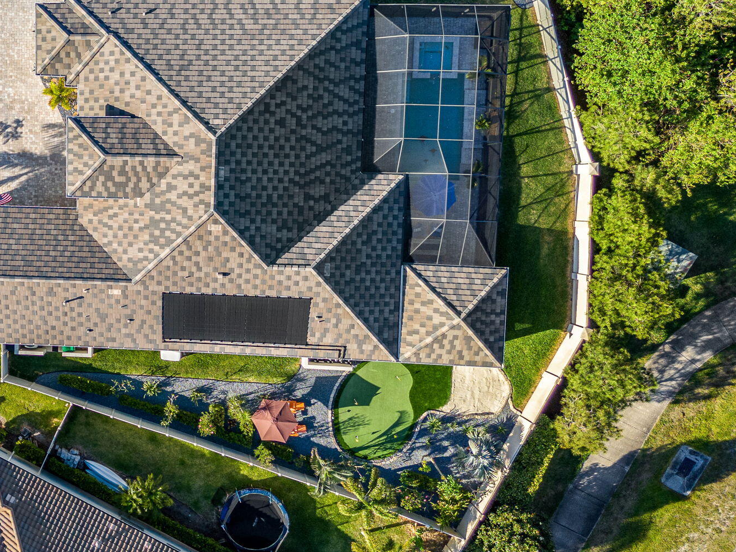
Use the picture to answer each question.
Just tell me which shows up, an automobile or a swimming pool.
swimming pool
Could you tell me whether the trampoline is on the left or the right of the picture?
left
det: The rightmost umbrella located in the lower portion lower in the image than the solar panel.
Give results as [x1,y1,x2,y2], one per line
[251,397,297,440]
